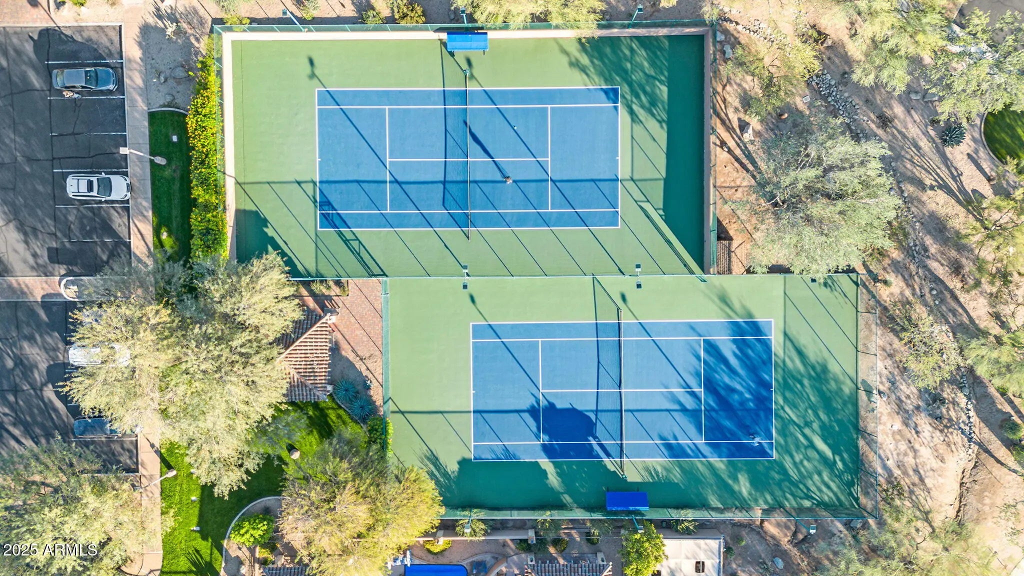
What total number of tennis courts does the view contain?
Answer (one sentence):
My tally gives 2 tennis courts in this view.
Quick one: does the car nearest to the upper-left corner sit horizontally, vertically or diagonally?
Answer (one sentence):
The car nearest to the upper-left corner is oriented horizontally.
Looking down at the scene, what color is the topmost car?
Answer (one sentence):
The topmost car looks blue in the image.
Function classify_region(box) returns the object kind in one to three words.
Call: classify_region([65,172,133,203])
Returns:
car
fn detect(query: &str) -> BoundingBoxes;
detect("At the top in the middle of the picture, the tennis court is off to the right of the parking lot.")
[233,37,705,277]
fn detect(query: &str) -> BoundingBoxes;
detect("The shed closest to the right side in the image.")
[715,239,746,273]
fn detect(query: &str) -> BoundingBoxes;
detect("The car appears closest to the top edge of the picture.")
[53,63,121,95]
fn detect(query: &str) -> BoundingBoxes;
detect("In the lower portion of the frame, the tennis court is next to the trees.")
[389,274,860,510]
